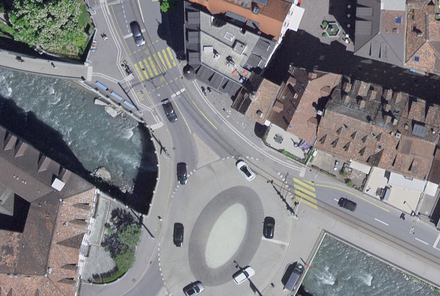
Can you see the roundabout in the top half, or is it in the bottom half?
bottom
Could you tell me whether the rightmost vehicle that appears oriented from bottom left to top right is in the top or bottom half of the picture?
bottom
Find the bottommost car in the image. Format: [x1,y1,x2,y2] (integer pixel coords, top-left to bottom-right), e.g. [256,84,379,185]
[182,281,204,296]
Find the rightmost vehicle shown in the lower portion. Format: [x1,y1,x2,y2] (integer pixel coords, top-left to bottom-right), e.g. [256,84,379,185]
[336,196,357,212]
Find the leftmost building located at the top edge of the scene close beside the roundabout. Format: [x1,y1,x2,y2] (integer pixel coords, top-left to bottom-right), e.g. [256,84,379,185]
[180,0,306,100]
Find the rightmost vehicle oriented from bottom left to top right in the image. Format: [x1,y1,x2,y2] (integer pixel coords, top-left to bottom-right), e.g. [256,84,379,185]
[282,262,303,290]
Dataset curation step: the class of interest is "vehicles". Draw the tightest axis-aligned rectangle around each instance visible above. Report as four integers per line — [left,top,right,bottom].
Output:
[172,223,182,246]
[235,160,255,181]
[182,281,204,296]
[231,266,254,284]
[160,98,178,122]
[282,262,303,290]
[262,216,274,239]
[176,162,187,184]
[128,20,146,45]
[336,196,357,212]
